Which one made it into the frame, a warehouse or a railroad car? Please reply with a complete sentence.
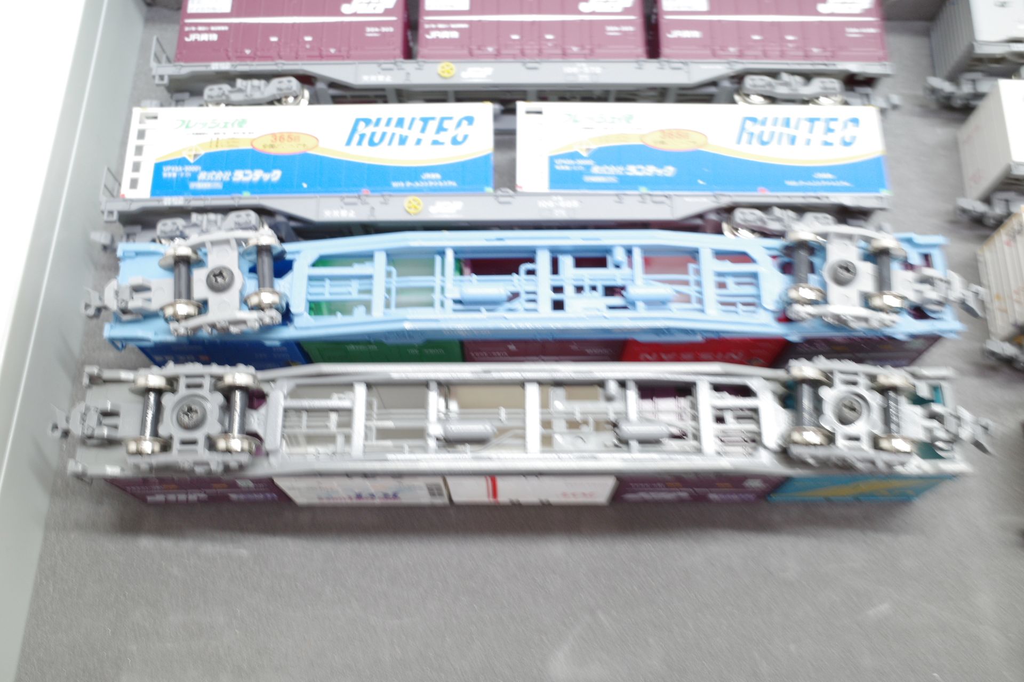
Of the two, only a railroad car appears.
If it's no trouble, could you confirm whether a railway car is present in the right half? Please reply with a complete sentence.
Yes, a railway car can be seen in the right half.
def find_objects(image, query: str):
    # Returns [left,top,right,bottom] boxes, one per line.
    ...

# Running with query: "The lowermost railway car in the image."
[42,356,997,492]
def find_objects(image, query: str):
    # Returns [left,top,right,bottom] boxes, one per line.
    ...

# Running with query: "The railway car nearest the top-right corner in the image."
[926,37,1024,111]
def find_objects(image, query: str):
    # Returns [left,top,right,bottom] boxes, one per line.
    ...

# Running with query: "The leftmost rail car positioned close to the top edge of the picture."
[145,34,905,137]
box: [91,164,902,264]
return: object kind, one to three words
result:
rail car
